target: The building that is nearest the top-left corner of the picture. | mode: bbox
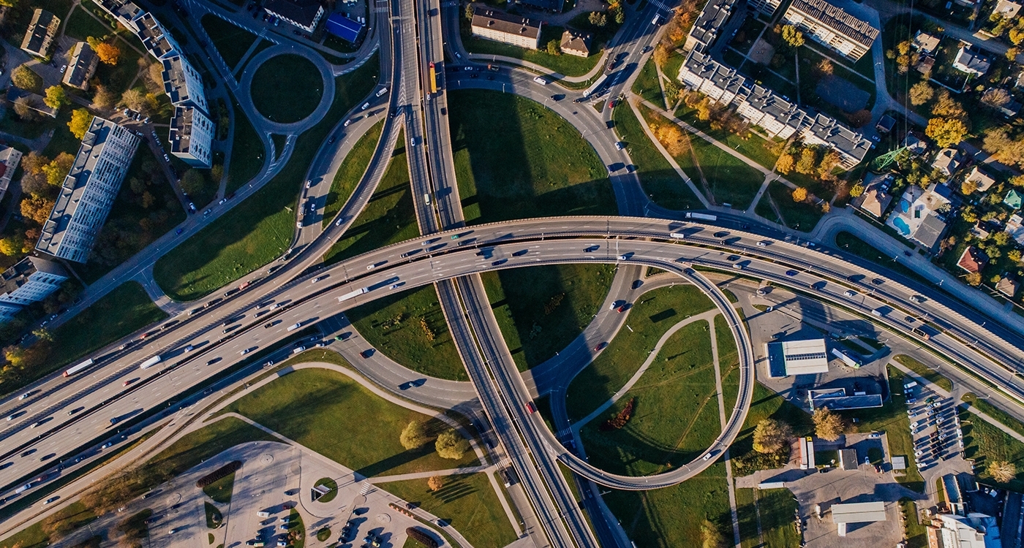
[19,8,63,58]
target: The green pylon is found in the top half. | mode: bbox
[864,146,910,174]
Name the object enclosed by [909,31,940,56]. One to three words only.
house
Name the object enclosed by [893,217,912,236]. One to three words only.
swimming pool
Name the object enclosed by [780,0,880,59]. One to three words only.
building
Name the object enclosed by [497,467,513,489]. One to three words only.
vehicle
